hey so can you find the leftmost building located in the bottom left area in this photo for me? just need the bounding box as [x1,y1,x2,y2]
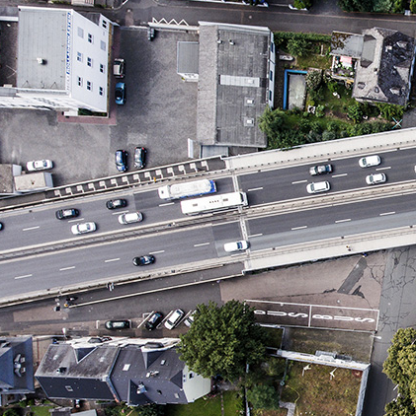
[0,328,61,408]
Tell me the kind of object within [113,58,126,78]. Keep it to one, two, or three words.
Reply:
vehicle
